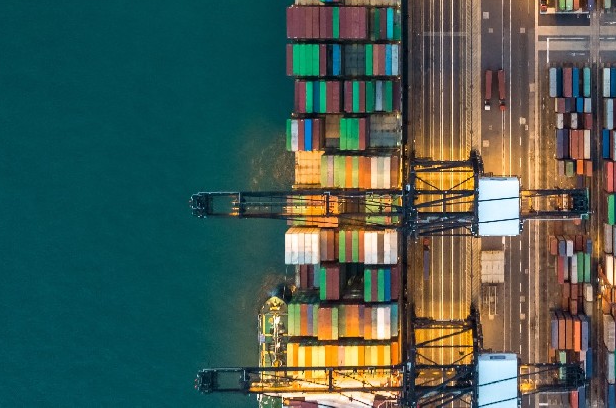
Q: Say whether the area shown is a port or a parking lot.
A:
port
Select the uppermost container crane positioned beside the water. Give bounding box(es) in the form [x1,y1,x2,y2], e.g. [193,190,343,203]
[186,142,597,238]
